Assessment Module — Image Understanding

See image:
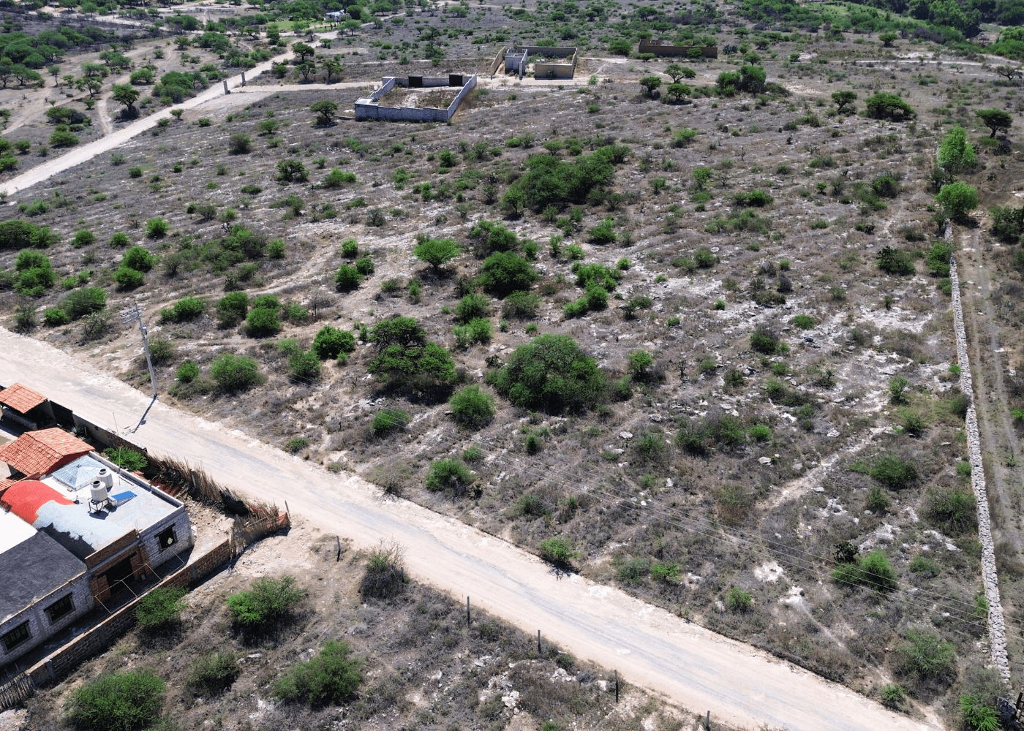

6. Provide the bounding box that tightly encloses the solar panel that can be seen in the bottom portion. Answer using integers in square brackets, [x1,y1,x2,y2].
[113,490,137,509]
